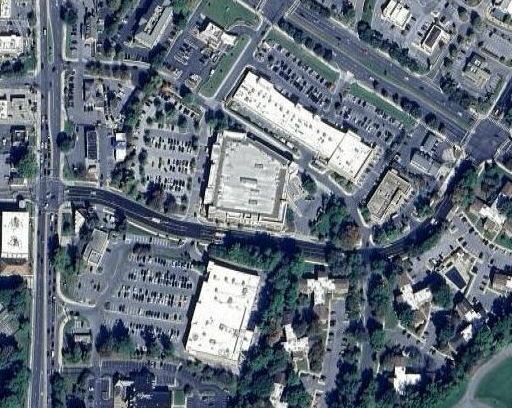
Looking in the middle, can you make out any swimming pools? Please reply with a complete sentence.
No, there is no swimming pool in the middle.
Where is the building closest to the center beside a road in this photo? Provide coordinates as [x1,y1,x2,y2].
[205,131,293,228]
